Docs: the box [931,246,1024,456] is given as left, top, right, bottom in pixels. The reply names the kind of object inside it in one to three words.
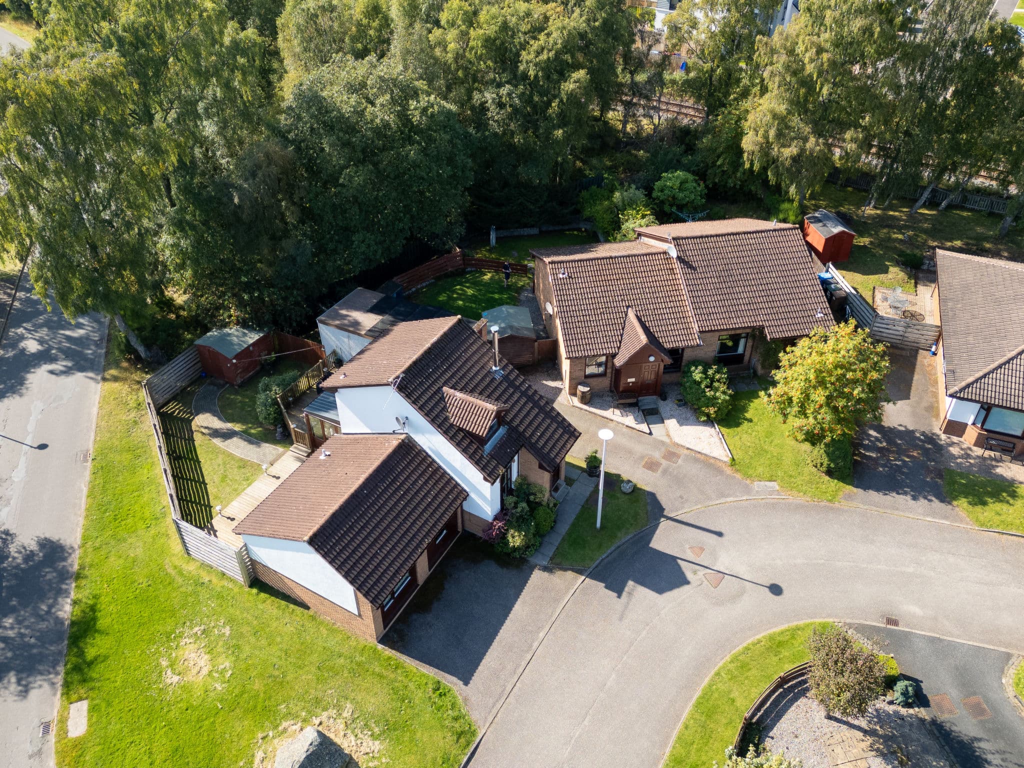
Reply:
house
